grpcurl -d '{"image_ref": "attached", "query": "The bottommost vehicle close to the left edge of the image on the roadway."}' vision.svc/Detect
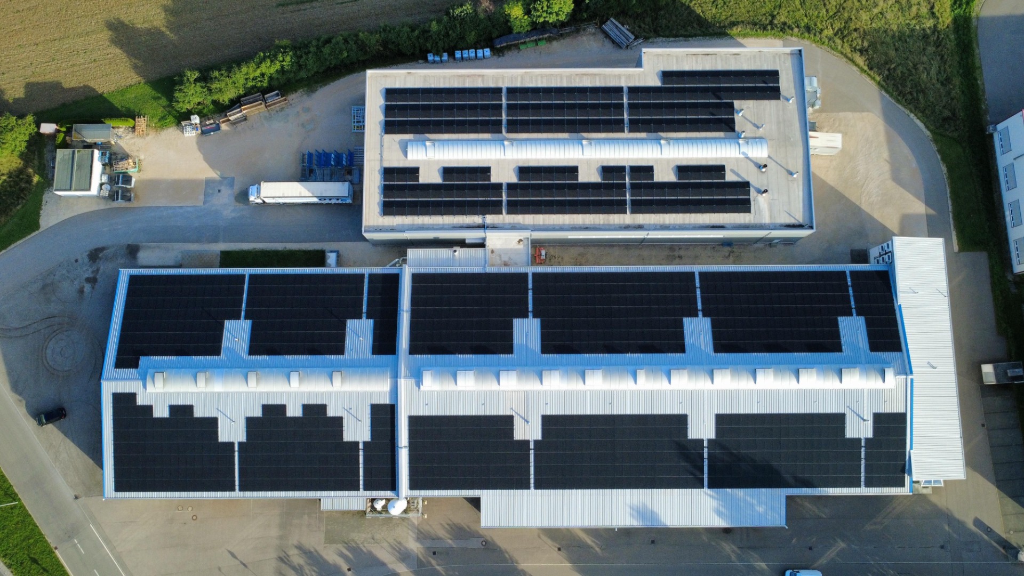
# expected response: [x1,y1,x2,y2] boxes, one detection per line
[36,406,69,427]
